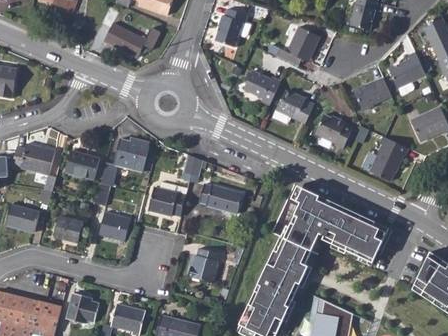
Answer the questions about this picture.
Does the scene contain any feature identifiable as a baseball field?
No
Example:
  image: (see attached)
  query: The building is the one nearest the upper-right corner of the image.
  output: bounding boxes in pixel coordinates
[422,20,448,82]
